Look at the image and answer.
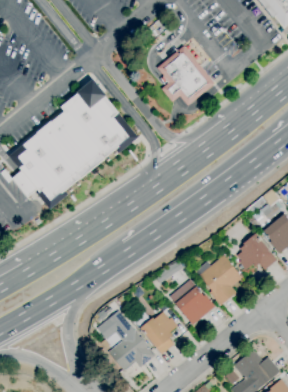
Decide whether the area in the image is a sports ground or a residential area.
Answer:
residential area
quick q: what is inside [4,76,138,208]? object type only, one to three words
building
